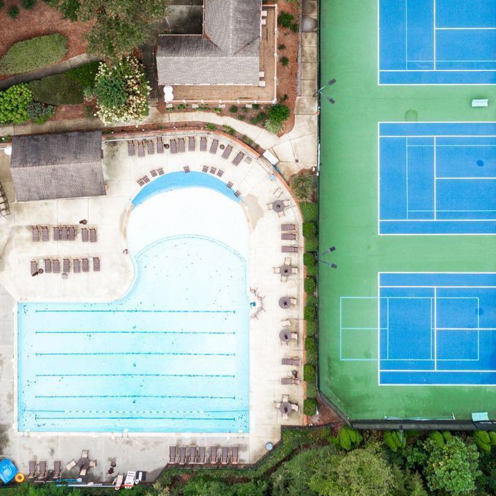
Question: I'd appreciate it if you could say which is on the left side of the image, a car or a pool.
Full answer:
You can see a pool on the left side of the image.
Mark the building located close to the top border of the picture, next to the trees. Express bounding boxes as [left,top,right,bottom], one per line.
[156,0,276,104]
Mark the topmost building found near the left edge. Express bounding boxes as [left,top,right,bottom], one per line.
[11,131,107,203]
